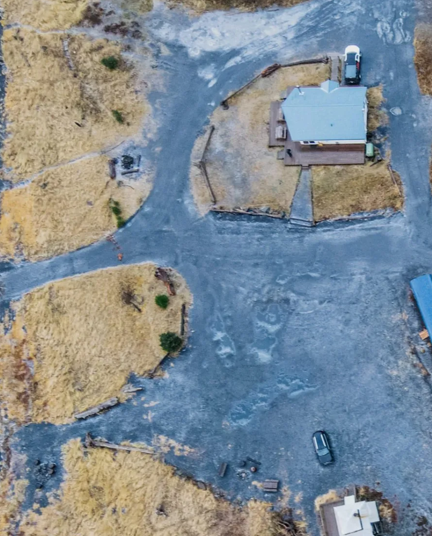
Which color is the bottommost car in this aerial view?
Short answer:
blue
